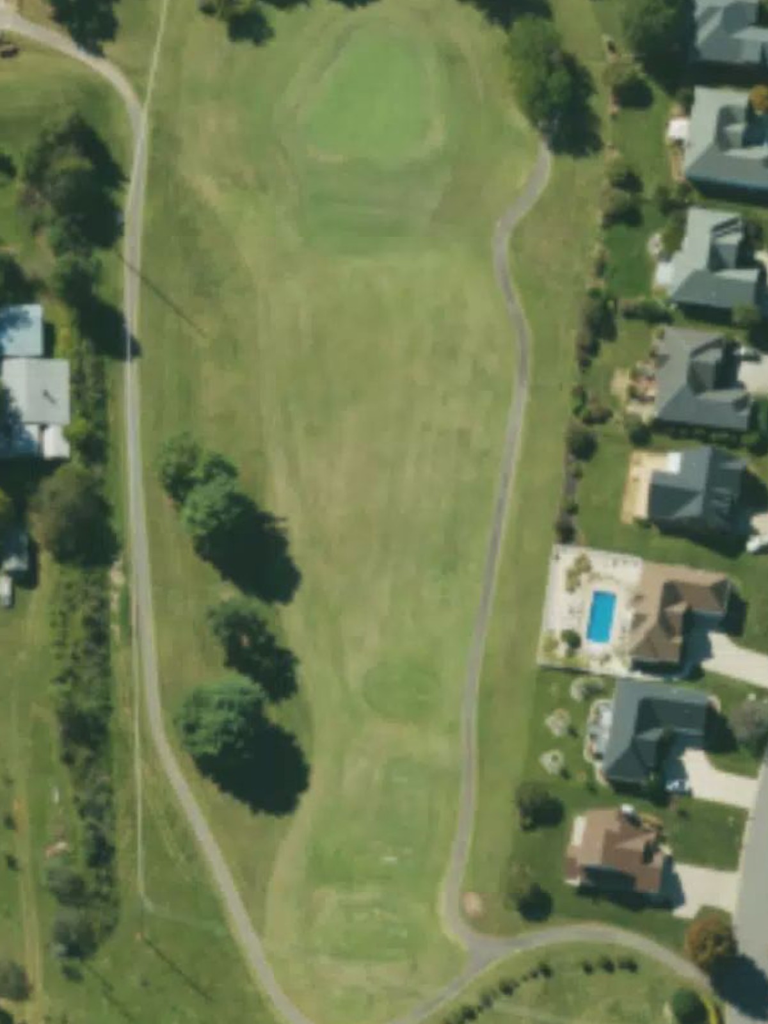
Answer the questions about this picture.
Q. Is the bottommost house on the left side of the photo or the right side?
right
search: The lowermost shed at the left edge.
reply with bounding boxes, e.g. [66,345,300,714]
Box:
[0,532,30,574]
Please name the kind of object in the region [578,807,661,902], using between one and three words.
house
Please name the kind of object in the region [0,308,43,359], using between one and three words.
shed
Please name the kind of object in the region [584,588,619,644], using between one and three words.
swimming pool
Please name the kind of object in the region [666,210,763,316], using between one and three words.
house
